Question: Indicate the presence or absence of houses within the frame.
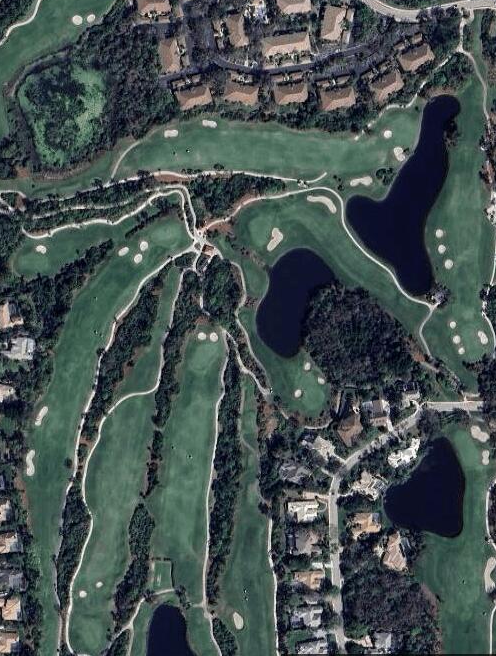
Yes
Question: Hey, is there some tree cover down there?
Yes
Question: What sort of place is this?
golf course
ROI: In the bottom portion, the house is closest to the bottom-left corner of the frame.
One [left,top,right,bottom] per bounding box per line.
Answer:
[0,632,24,652]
